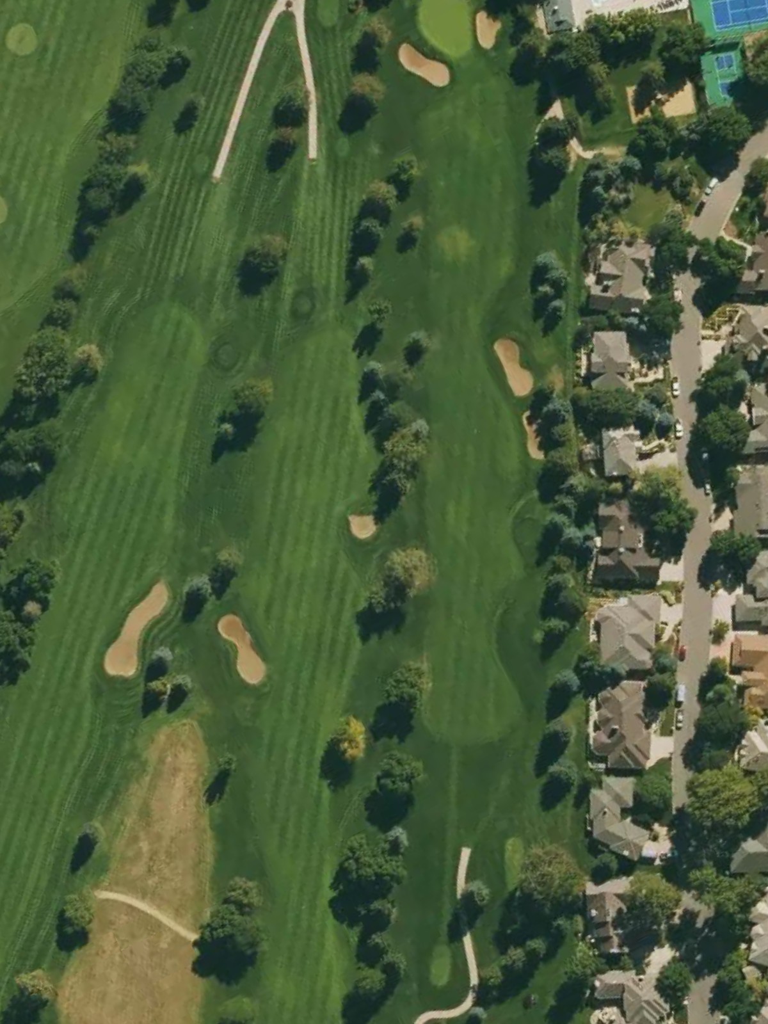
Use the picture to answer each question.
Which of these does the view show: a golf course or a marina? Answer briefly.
golf course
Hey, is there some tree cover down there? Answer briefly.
Yes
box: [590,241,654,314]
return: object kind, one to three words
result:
house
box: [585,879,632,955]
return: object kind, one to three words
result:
house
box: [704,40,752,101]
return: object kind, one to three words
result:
sports court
